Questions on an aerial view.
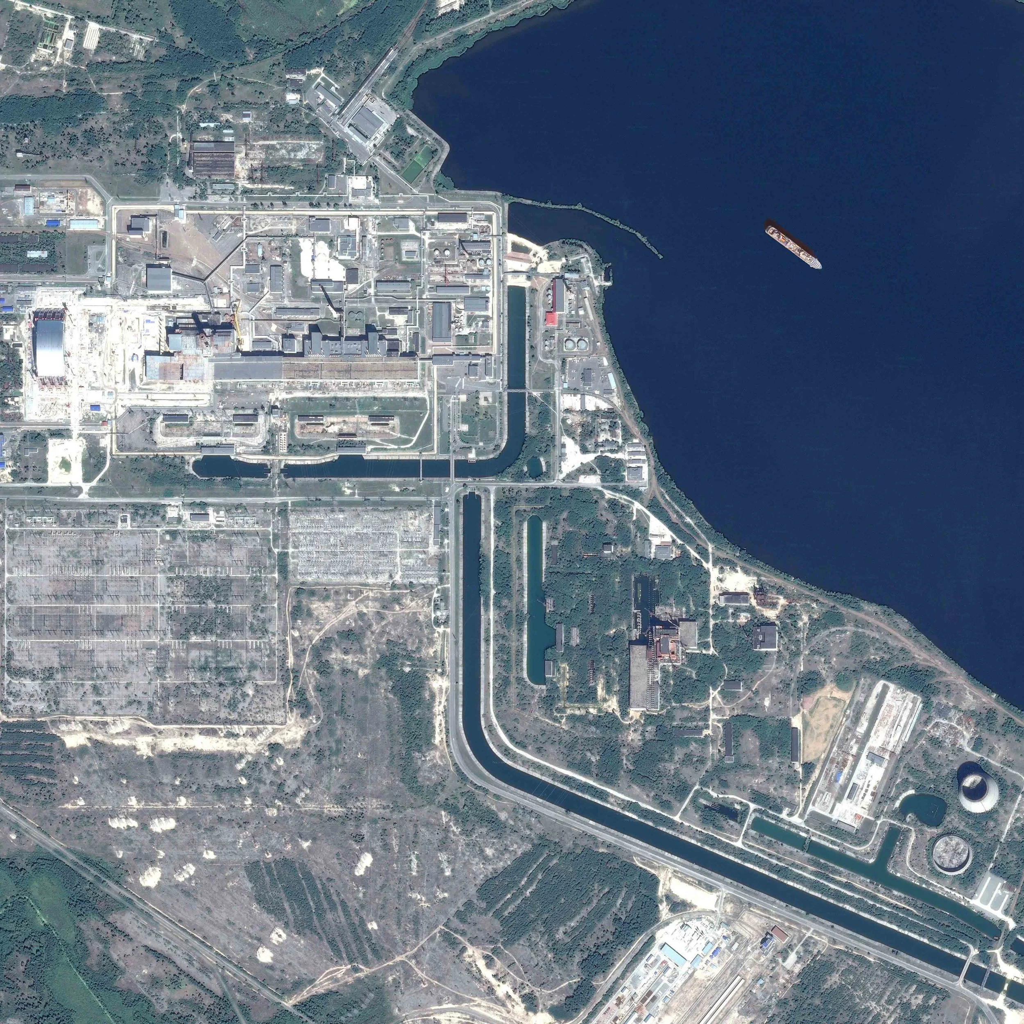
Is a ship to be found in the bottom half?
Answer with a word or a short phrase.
No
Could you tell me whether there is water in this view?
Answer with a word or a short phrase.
Yes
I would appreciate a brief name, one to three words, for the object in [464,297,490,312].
building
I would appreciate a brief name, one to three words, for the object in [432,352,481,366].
building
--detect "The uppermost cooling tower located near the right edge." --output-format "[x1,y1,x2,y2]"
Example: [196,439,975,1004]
[957,771,1000,814]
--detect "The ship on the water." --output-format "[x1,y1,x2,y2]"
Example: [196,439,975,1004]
[765,227,822,269]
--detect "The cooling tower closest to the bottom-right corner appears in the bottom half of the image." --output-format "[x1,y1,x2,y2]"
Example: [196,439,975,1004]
[931,832,974,875]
